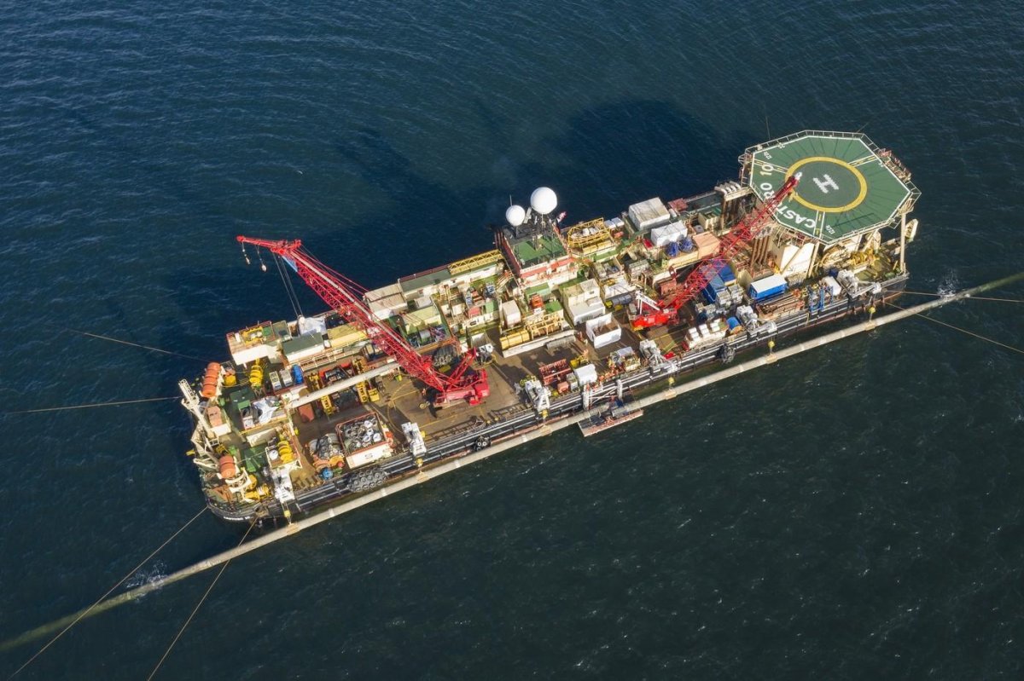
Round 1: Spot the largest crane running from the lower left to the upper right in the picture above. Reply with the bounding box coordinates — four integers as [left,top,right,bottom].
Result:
[626,174,801,338]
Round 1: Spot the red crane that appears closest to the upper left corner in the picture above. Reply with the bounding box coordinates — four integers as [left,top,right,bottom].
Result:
[236,235,492,416]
